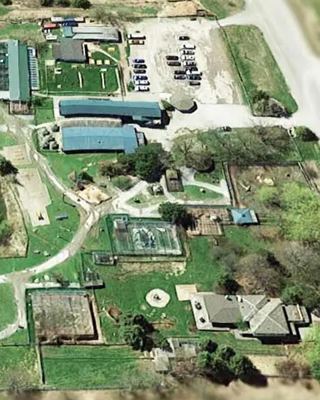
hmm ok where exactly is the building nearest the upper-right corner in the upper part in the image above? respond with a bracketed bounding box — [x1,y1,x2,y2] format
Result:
[169,90,194,112]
